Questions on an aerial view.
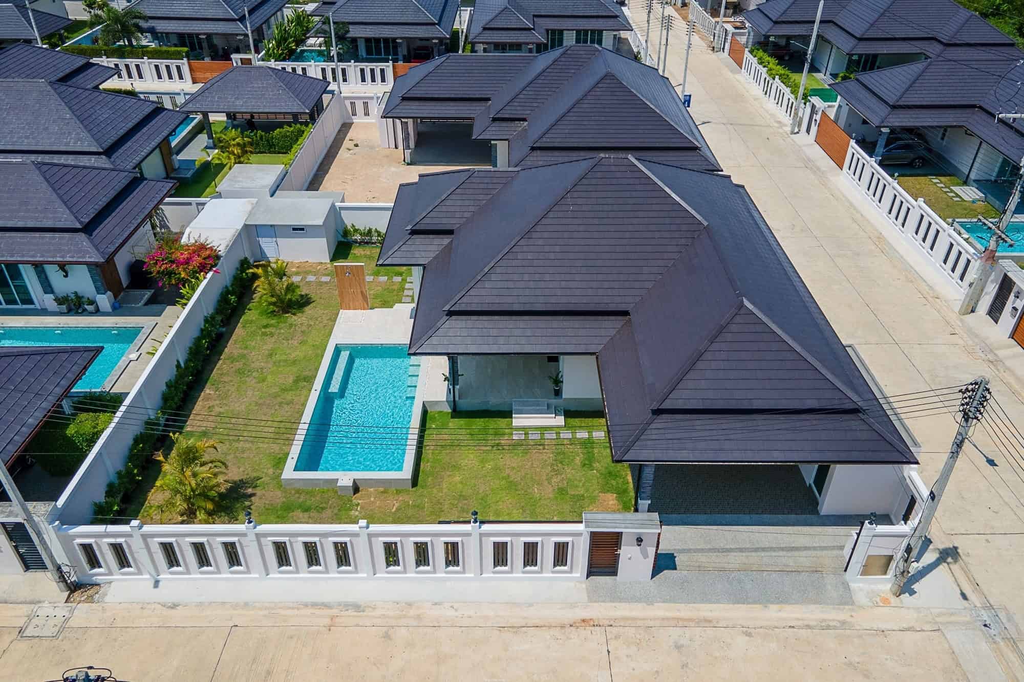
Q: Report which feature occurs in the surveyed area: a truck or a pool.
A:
pool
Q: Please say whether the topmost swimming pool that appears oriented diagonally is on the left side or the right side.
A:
left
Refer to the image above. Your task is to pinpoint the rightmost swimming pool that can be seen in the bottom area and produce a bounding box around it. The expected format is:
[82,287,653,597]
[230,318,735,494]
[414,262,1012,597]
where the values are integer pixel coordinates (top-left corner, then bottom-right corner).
[277,340,431,495]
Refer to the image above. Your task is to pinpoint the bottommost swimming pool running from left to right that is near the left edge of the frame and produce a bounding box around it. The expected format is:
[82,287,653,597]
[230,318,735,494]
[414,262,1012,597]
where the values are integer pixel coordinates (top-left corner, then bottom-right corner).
[0,322,157,377]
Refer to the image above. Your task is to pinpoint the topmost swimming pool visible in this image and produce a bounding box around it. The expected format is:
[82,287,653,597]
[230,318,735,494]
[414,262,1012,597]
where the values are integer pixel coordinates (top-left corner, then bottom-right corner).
[290,48,346,62]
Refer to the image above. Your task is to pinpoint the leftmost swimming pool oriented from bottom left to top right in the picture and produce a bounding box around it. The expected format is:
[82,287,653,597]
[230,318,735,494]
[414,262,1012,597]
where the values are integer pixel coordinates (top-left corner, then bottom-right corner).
[170,119,199,151]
